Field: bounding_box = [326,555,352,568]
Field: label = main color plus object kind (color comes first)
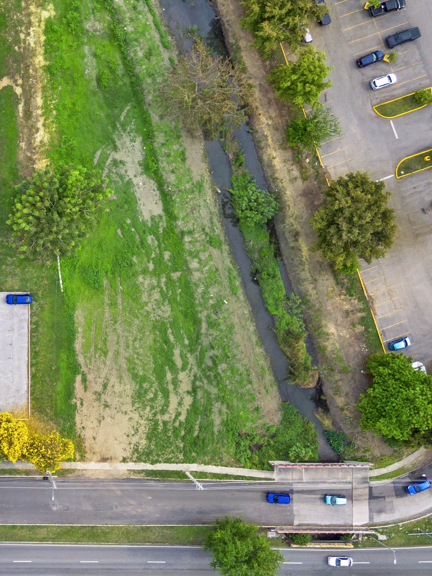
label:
white vehicle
